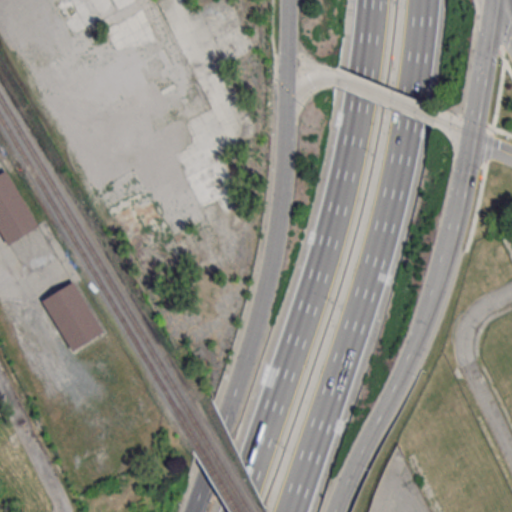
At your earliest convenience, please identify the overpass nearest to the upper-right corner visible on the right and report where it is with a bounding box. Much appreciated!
[332,66,434,128]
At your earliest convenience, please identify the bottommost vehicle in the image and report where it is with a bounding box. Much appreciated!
[247,424,267,470]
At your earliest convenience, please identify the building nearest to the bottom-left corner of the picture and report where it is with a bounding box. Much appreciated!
[40,282,104,351]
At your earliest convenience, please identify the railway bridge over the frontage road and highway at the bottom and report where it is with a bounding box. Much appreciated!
[192,402,267,512]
